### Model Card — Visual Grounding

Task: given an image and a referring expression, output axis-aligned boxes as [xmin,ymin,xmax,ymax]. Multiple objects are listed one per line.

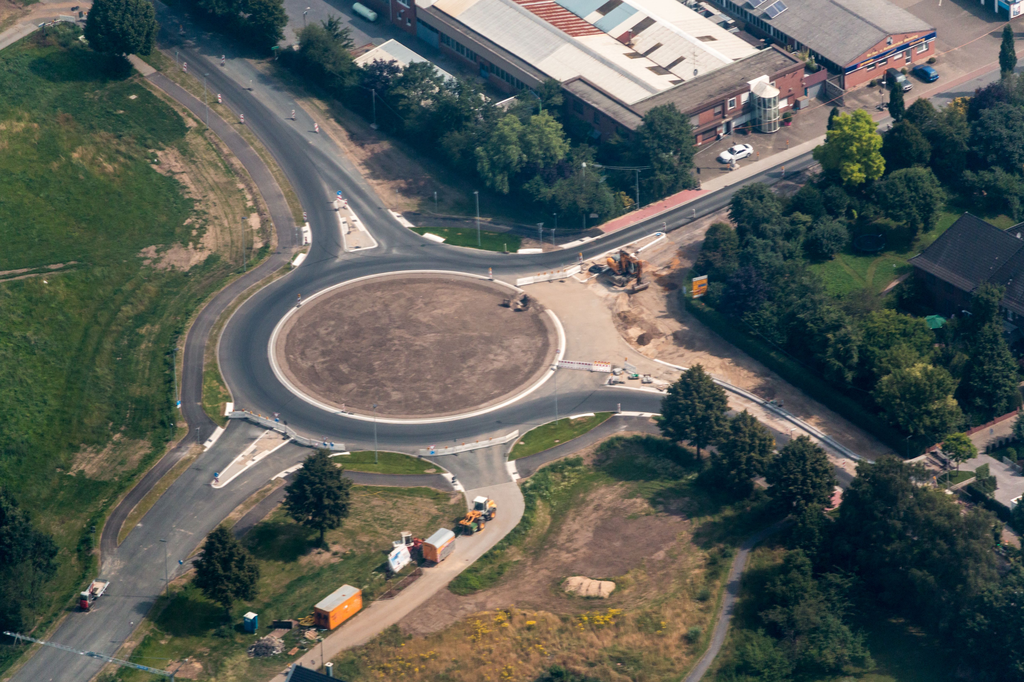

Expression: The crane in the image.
[2,630,188,682]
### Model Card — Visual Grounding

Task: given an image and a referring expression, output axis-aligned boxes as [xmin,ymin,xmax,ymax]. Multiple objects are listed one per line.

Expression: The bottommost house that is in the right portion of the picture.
[907,205,1024,341]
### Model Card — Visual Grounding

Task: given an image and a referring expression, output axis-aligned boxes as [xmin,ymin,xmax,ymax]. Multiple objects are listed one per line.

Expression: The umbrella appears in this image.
[924,317,947,330]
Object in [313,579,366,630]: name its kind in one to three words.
shipping container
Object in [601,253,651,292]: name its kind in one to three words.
work vehicle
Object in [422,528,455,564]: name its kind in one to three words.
trailer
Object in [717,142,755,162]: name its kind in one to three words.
car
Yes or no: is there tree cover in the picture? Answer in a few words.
Yes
